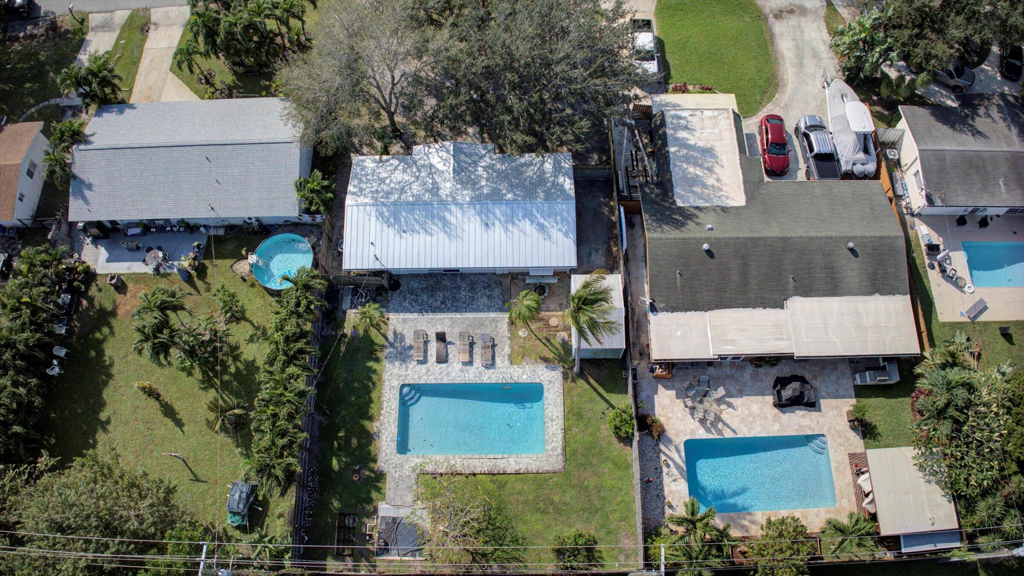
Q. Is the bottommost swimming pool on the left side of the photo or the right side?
right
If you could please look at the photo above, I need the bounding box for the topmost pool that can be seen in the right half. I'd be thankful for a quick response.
[963,242,1024,286]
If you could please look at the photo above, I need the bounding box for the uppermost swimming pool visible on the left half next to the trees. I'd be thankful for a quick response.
[250,233,318,297]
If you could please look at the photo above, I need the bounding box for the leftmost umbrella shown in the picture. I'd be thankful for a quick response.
[158,260,189,280]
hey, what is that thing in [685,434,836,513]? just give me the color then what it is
blue swimming pool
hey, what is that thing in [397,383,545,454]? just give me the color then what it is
blue swimming pool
